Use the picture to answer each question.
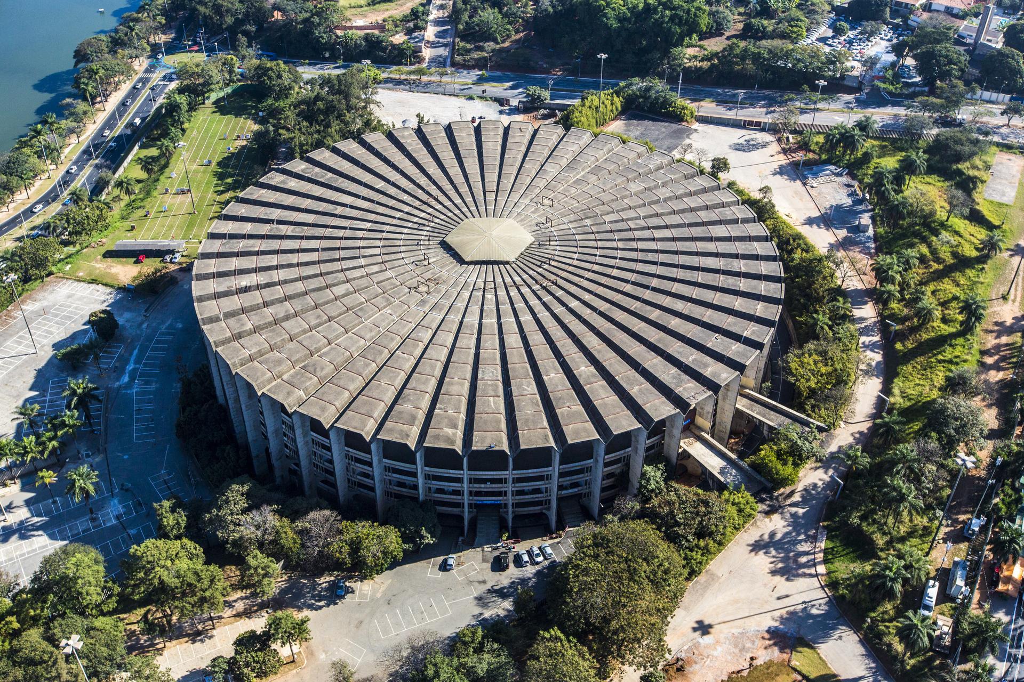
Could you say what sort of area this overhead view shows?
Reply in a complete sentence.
The picture captures a sports ground.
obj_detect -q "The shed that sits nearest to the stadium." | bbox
[110,240,196,259]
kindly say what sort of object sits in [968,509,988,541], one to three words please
vehicle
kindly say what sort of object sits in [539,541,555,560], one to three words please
car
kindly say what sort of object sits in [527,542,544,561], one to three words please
car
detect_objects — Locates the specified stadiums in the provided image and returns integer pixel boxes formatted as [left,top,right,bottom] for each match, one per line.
[191,119,785,563]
